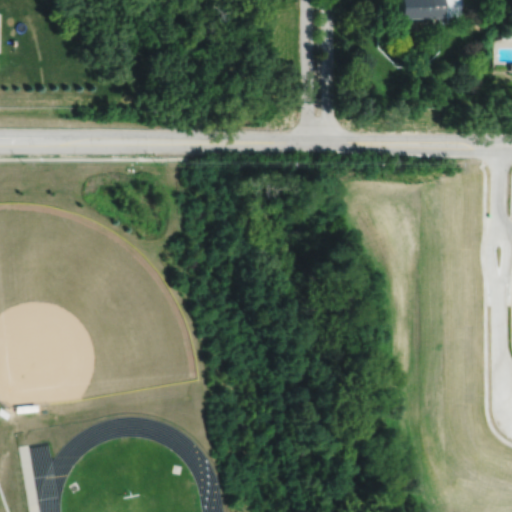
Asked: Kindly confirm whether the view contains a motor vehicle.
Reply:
No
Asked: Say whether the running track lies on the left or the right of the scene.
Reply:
left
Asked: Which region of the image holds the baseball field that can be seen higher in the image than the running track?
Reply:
left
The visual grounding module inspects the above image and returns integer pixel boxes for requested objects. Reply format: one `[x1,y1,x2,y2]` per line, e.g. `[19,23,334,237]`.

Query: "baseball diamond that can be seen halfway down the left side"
[0,204,198,405]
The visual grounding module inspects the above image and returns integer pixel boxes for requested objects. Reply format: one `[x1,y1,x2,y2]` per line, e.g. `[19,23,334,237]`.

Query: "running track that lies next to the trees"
[31,417,224,512]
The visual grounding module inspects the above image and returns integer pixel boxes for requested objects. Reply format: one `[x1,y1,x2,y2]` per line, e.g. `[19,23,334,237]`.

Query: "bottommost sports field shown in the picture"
[61,438,204,512]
